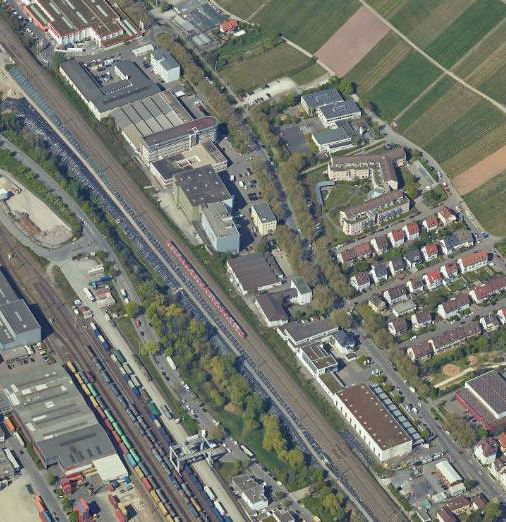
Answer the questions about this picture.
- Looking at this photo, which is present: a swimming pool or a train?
train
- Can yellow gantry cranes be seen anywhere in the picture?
No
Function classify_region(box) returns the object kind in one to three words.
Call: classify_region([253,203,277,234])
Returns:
house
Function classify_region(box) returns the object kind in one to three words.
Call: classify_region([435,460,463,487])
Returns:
shed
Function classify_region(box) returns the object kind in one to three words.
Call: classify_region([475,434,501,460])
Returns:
house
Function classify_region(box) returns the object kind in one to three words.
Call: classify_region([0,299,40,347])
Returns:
building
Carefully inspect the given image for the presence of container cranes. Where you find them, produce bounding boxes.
[167,432,230,475]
